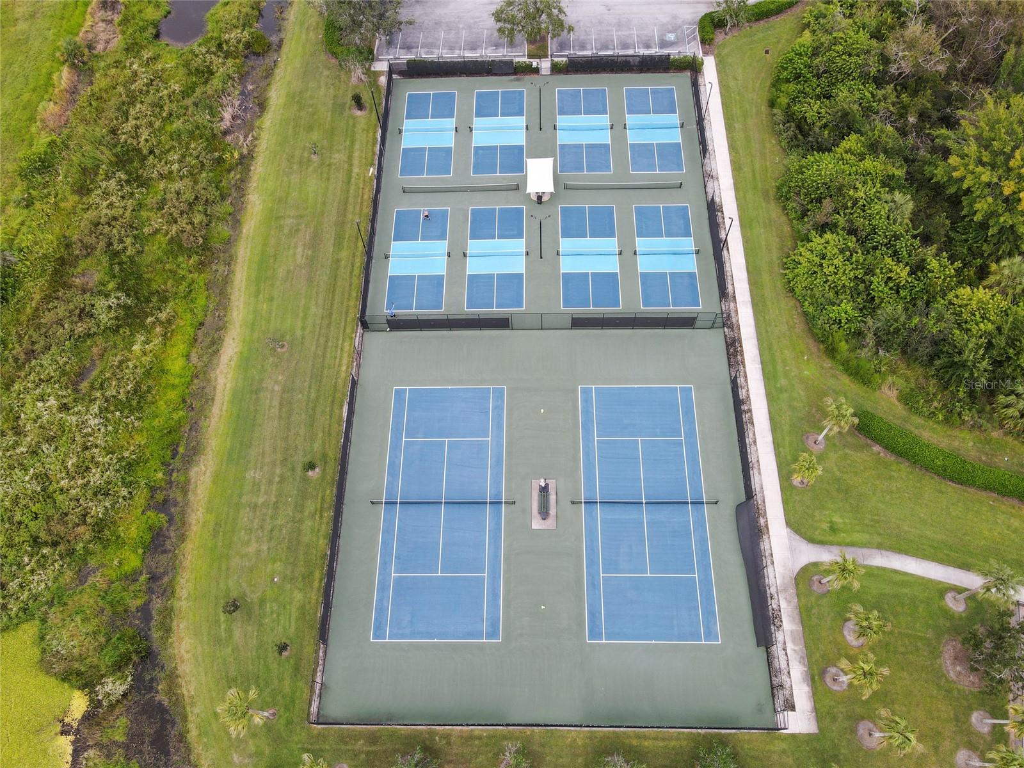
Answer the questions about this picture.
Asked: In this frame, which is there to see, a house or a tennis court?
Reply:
tennis court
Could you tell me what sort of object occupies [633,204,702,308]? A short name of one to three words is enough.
sports court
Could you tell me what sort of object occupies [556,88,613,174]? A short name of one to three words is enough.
sports court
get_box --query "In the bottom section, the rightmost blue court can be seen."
[579,385,721,643]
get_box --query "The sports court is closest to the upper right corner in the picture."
[624,86,685,172]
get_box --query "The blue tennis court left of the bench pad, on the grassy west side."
[370,386,506,642]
